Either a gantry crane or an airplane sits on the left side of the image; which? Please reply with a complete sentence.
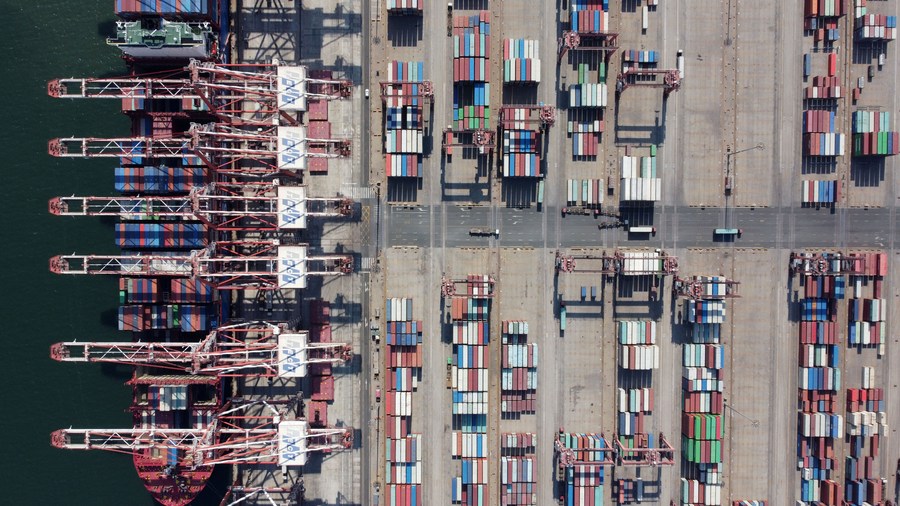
Visible on the left side of the image is a gantry crane.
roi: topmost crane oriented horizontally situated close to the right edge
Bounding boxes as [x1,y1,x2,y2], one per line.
[793,252,865,277]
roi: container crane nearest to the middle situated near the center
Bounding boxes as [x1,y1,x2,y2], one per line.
[441,274,495,299]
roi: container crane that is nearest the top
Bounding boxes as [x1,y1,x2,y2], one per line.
[560,31,619,65]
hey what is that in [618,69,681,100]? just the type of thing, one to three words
container crane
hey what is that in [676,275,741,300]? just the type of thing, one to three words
container crane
